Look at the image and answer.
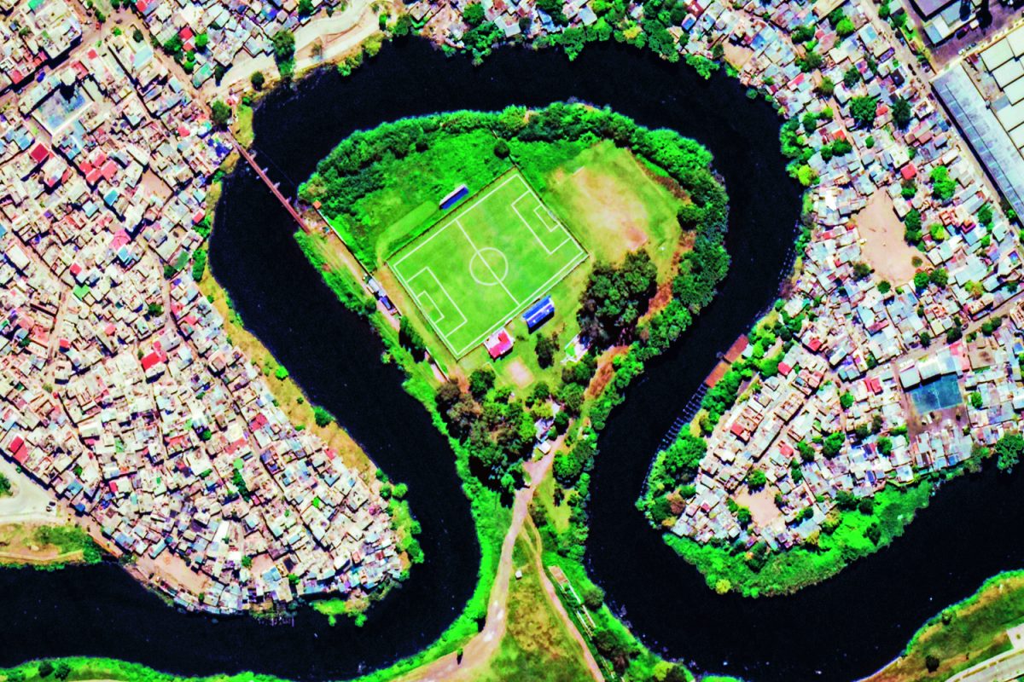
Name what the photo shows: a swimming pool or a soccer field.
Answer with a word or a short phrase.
soccer field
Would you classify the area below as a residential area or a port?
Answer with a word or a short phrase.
residential area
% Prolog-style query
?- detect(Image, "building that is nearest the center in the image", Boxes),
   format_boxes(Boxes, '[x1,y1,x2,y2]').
[483,328,513,357]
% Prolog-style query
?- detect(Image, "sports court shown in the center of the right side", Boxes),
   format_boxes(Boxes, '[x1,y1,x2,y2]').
[912,375,964,416]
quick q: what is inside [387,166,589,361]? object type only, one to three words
soccer field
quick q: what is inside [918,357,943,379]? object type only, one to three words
building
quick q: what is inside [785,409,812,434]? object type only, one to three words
house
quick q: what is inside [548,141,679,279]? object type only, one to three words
sports field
